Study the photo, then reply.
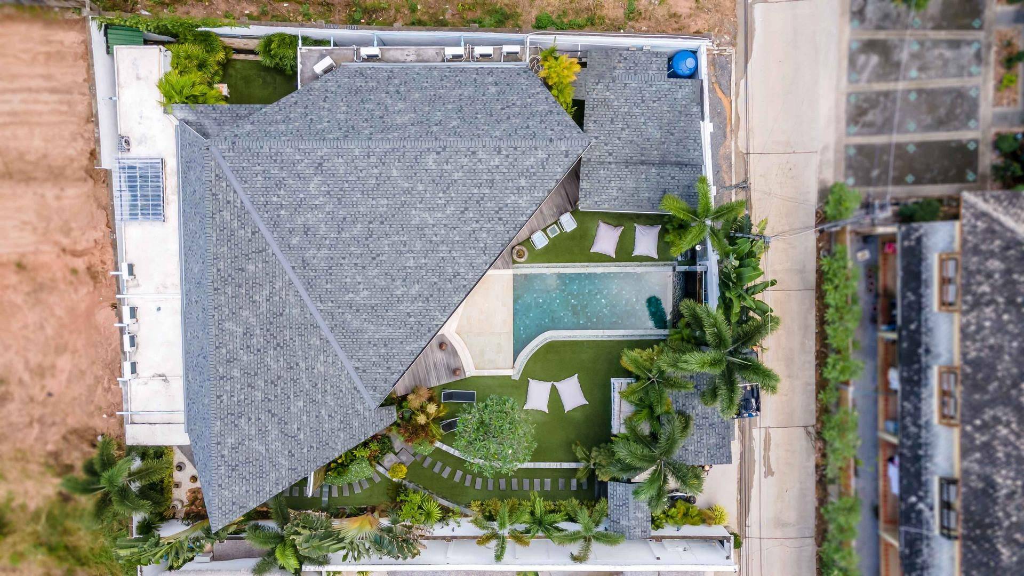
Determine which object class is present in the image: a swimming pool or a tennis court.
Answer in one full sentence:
It is a swimming pool that can be seen here.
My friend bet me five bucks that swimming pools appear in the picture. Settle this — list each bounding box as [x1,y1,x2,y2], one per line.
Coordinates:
[512,261,676,381]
